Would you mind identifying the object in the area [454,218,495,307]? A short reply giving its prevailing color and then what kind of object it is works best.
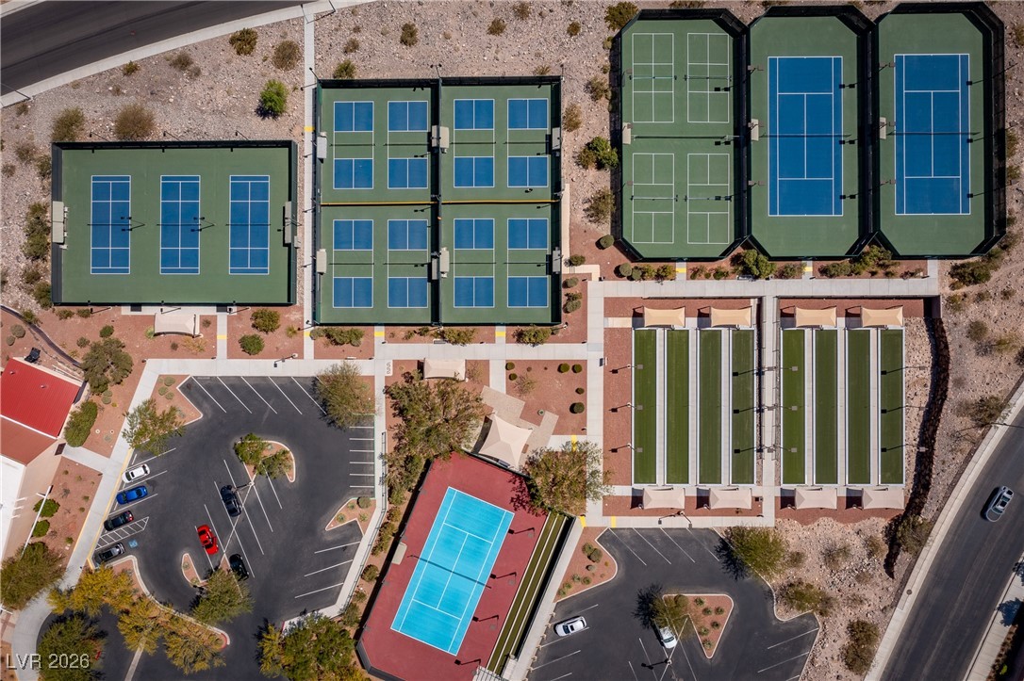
blue sports court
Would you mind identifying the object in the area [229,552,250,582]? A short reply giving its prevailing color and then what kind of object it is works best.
black car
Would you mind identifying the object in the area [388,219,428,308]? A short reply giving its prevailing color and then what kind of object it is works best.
blue sports court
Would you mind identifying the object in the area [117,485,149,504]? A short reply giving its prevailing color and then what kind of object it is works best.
blue car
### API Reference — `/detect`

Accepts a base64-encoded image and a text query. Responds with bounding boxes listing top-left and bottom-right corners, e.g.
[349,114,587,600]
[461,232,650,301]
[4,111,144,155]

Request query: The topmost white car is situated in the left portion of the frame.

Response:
[121,463,152,483]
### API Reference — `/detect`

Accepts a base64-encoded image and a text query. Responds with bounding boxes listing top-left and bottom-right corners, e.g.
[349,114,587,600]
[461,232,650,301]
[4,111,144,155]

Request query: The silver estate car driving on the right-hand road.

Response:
[982,489,1011,522]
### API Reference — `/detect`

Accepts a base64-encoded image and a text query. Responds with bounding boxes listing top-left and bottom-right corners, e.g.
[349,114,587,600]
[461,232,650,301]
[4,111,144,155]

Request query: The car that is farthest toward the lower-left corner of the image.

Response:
[94,542,126,563]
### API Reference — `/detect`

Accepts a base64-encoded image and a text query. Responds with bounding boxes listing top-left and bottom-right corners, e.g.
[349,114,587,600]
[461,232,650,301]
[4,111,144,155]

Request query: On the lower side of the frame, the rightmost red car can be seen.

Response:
[198,524,222,554]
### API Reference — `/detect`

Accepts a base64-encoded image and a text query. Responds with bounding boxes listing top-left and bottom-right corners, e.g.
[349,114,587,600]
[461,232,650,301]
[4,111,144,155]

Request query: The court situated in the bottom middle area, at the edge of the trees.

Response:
[357,455,548,681]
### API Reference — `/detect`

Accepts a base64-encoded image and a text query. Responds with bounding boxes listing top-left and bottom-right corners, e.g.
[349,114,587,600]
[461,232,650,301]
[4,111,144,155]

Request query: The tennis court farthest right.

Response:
[875,11,992,255]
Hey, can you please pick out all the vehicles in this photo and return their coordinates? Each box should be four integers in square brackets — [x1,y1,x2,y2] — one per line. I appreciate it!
[654,616,675,649]
[121,463,152,483]
[982,489,1011,522]
[105,510,135,530]
[94,542,126,563]
[220,484,242,517]
[198,524,222,554]
[229,552,250,582]
[117,485,149,504]
[555,615,587,636]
